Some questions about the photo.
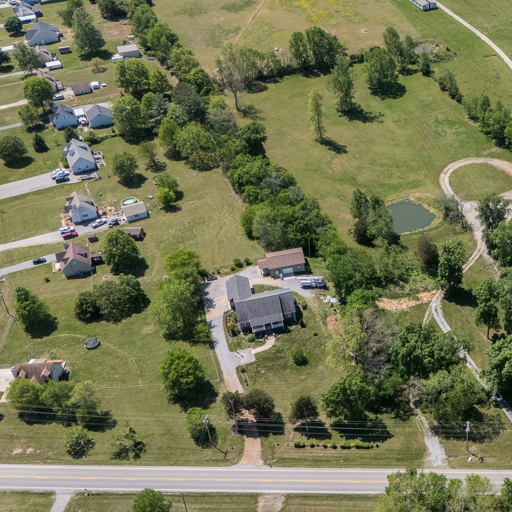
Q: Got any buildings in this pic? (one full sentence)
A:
Yes, a building can be made out from above.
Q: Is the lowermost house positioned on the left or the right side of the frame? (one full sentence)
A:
The lowermost house sits on the left side.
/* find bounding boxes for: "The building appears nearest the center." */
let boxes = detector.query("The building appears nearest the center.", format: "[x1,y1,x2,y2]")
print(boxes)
[255,249,306,278]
